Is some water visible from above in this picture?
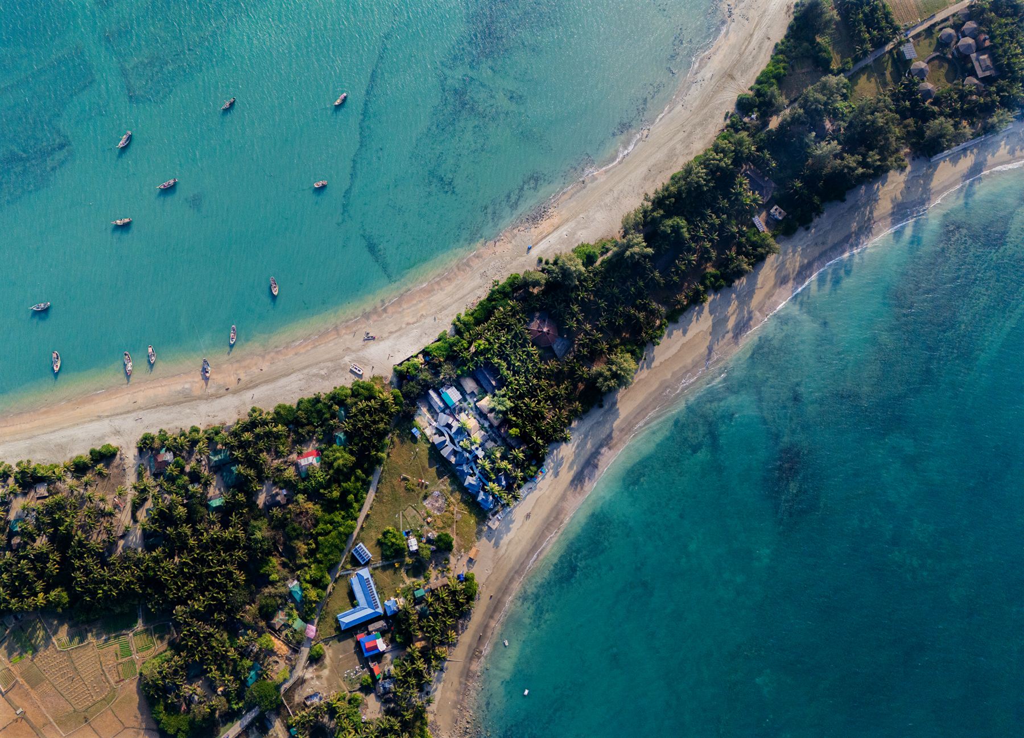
Yes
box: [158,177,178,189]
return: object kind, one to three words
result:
boat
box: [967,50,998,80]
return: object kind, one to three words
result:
house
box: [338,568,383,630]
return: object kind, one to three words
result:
building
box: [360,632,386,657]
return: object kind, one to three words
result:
house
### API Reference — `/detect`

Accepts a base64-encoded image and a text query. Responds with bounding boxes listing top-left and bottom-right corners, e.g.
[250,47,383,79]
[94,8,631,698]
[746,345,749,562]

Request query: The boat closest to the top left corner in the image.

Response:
[117,130,132,148]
